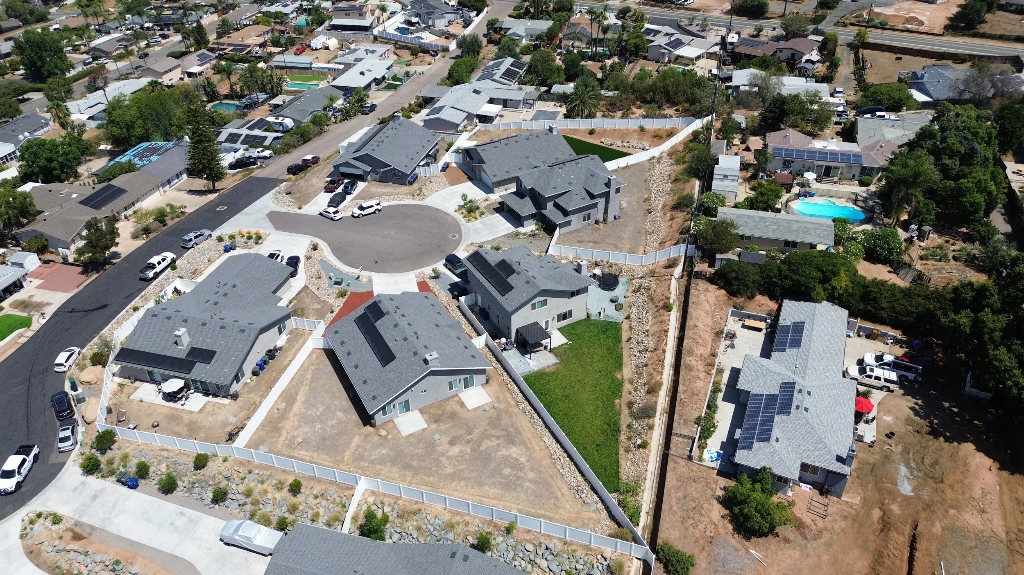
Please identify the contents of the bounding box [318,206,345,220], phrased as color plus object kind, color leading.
white car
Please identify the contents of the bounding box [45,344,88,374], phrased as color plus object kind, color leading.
white car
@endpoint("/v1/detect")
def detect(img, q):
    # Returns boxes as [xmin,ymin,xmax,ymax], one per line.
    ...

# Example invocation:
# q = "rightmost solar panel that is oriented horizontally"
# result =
[774,148,863,160]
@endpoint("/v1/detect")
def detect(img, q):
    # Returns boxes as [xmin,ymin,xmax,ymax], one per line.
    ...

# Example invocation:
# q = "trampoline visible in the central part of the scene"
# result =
[599,269,623,295]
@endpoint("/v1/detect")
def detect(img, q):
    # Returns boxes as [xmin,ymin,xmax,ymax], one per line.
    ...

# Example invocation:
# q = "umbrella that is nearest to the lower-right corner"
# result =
[860,399,883,415]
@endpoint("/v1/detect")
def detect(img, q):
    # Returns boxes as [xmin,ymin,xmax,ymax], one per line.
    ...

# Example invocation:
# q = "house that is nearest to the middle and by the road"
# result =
[460,242,595,349]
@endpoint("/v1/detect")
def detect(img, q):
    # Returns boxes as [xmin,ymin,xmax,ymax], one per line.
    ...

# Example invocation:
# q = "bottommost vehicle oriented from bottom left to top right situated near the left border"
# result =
[0,444,48,499]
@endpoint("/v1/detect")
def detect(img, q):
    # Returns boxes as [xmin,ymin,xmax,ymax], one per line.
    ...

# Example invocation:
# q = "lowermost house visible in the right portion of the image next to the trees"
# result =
[733,297,861,497]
